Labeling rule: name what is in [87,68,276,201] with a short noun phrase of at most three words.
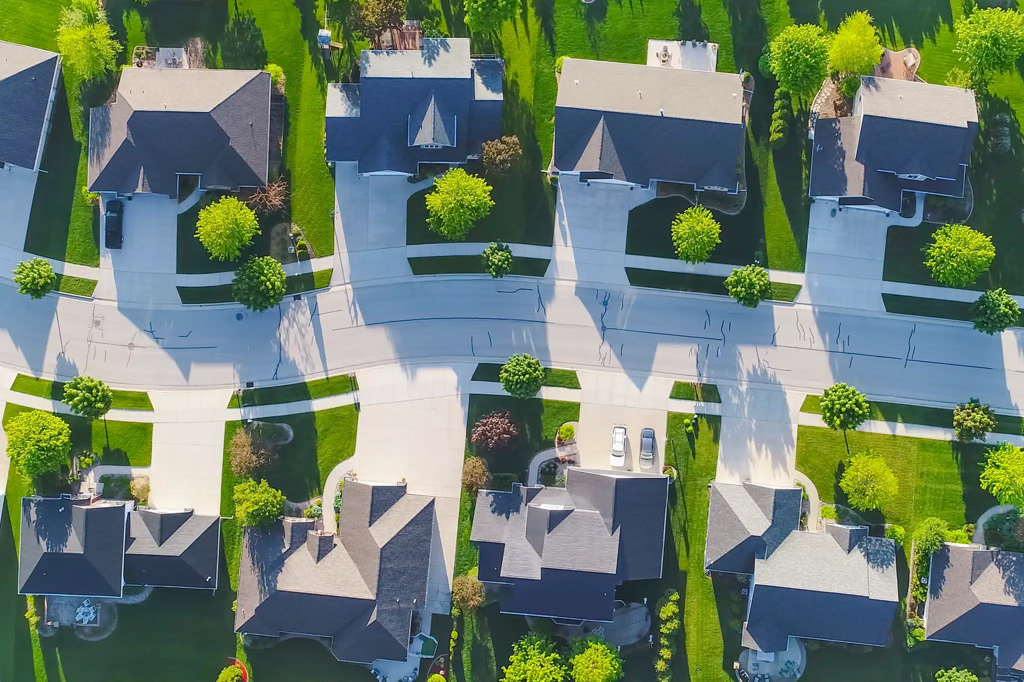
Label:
house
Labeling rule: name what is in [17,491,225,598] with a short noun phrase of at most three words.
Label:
house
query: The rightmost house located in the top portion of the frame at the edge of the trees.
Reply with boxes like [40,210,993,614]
[805,75,979,214]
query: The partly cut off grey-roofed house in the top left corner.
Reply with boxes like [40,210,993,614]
[0,40,63,171]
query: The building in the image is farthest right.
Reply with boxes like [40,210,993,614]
[918,541,1024,667]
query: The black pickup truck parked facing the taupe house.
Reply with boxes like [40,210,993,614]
[101,199,123,249]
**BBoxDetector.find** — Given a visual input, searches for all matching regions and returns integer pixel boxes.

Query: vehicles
[101,199,123,249]
[638,428,657,469]
[609,425,629,468]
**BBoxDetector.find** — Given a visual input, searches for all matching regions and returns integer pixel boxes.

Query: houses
[325,37,504,177]
[554,58,745,196]
[17,491,225,598]
[470,467,669,627]
[805,75,979,214]
[918,541,1024,667]
[234,479,436,665]
[0,40,63,171]
[87,68,276,201]
[702,480,899,653]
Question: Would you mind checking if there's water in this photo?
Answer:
No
